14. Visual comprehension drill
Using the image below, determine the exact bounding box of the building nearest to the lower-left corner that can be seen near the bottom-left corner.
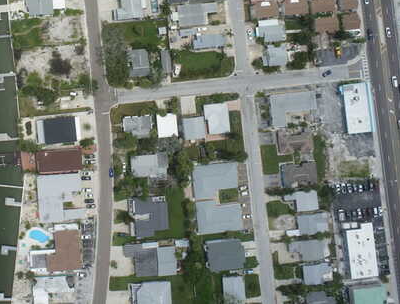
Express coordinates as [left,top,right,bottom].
[34,274,74,304]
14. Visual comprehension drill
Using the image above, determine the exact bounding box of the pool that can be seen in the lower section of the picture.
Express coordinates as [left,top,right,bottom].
[28,228,50,242]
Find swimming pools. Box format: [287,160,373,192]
[28,228,50,242]
[150,0,159,13]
